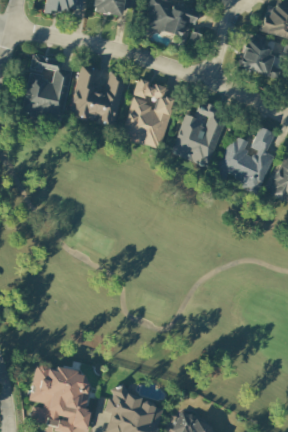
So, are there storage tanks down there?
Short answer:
No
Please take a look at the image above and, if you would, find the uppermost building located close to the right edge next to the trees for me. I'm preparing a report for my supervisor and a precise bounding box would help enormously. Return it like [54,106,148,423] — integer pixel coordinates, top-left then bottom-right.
[260,4,288,40]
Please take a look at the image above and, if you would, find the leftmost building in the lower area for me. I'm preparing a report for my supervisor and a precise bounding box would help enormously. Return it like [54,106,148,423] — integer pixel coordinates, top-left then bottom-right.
[27,366,92,432]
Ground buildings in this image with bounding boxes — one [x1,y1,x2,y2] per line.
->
[226,128,275,190]
[175,104,224,164]
[102,385,161,432]
[150,0,203,36]
[42,0,78,12]
[29,54,66,110]
[170,411,219,432]
[273,151,288,197]
[260,4,288,40]
[126,79,176,148]
[72,66,128,124]
[27,366,92,432]
[94,0,126,17]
